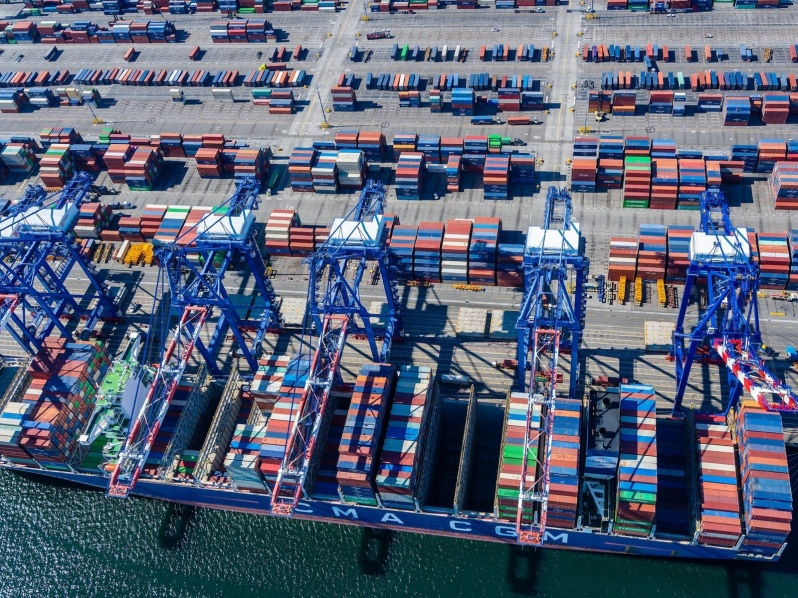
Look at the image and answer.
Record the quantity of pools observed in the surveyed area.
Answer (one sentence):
I count no pools.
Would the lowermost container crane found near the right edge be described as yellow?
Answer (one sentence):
No, from above the lowermost container crane found near the right edge looks blue.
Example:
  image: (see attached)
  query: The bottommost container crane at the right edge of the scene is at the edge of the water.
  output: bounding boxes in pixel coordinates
[663,193,798,420]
